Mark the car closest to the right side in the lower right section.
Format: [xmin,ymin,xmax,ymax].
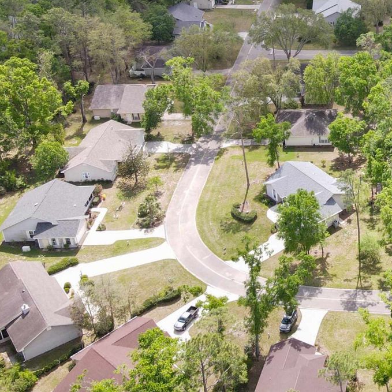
[278,309,300,332]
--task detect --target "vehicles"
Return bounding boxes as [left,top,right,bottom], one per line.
[171,303,201,331]
[278,309,300,332]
